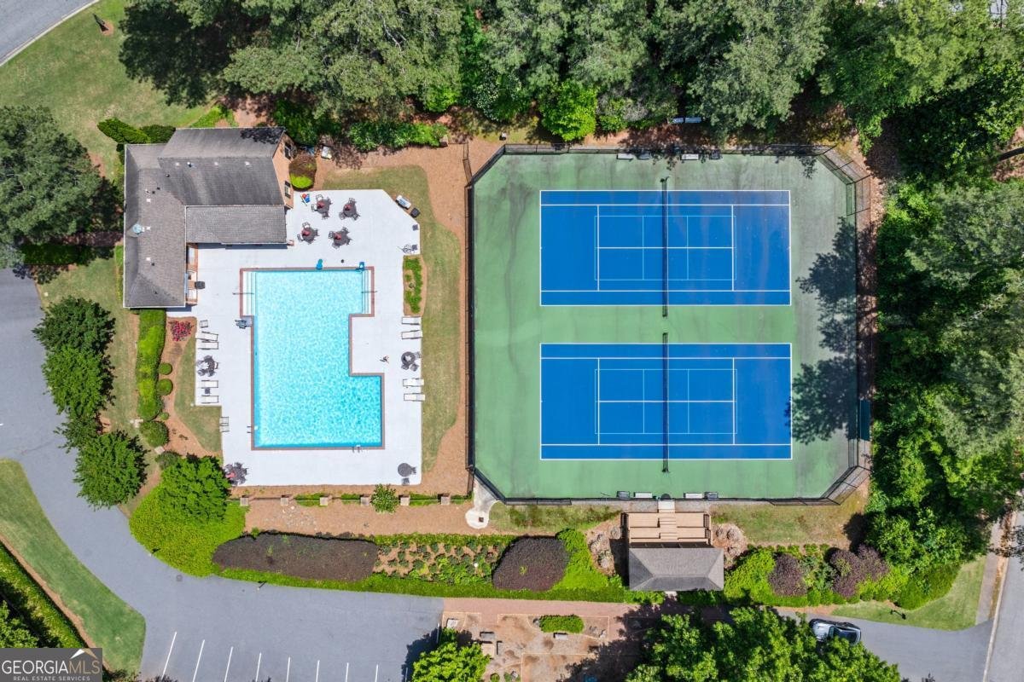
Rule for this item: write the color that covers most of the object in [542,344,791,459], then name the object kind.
blue tennis court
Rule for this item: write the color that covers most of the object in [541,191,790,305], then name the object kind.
blue tennis court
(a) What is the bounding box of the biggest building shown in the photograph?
[123,127,294,309]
